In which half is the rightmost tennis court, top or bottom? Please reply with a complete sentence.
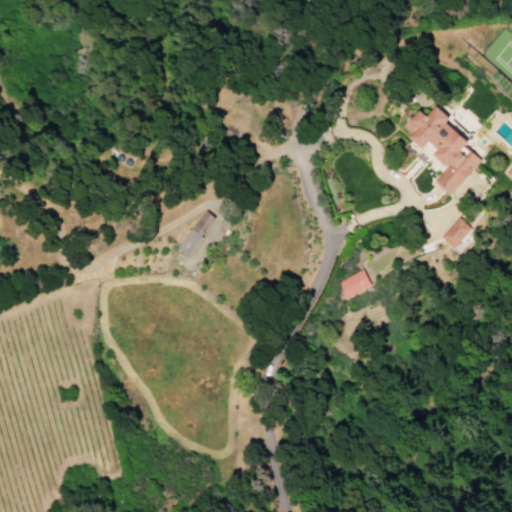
You can find the rightmost tennis court in the top half.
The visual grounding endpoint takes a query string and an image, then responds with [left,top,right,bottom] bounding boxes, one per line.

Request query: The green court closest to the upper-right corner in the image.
[486,34,512,80]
